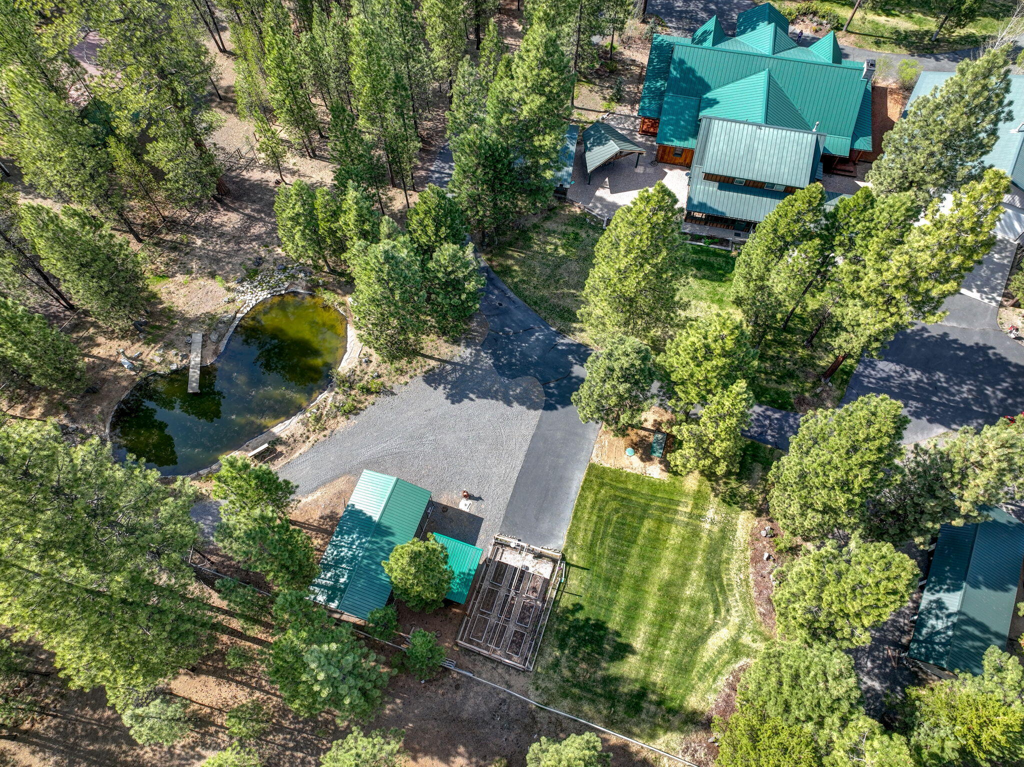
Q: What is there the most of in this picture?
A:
trees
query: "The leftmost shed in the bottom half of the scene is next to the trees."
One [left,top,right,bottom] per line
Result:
[305,470,434,621]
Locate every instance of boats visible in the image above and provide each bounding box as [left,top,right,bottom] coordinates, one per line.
[120,357,137,371]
